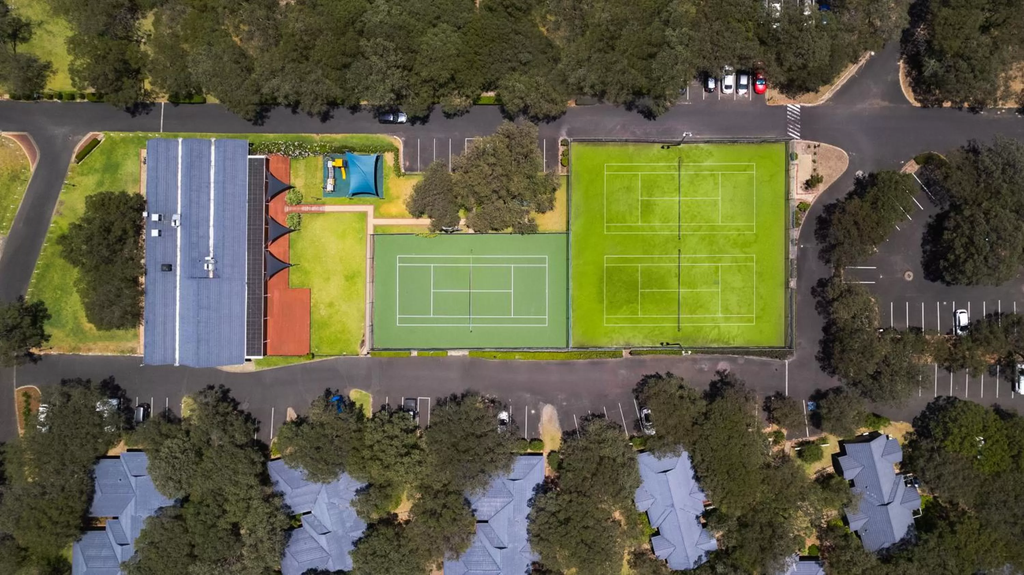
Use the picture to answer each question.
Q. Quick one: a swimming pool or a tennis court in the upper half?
tennis court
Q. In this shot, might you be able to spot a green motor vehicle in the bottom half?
No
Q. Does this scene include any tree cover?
Yes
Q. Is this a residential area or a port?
residential area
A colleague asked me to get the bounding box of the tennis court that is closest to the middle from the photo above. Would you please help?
[374,234,569,349]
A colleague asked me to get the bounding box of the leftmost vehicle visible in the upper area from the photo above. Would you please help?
[378,110,408,125]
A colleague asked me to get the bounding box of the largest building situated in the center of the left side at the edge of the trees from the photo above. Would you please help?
[143,138,274,366]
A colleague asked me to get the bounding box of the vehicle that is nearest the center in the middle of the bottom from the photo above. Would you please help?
[496,411,510,437]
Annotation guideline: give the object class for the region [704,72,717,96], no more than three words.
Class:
vehicle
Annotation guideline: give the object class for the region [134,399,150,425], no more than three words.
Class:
car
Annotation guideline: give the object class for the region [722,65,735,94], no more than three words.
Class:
vehicle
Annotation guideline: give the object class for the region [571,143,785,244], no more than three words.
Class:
tennis court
